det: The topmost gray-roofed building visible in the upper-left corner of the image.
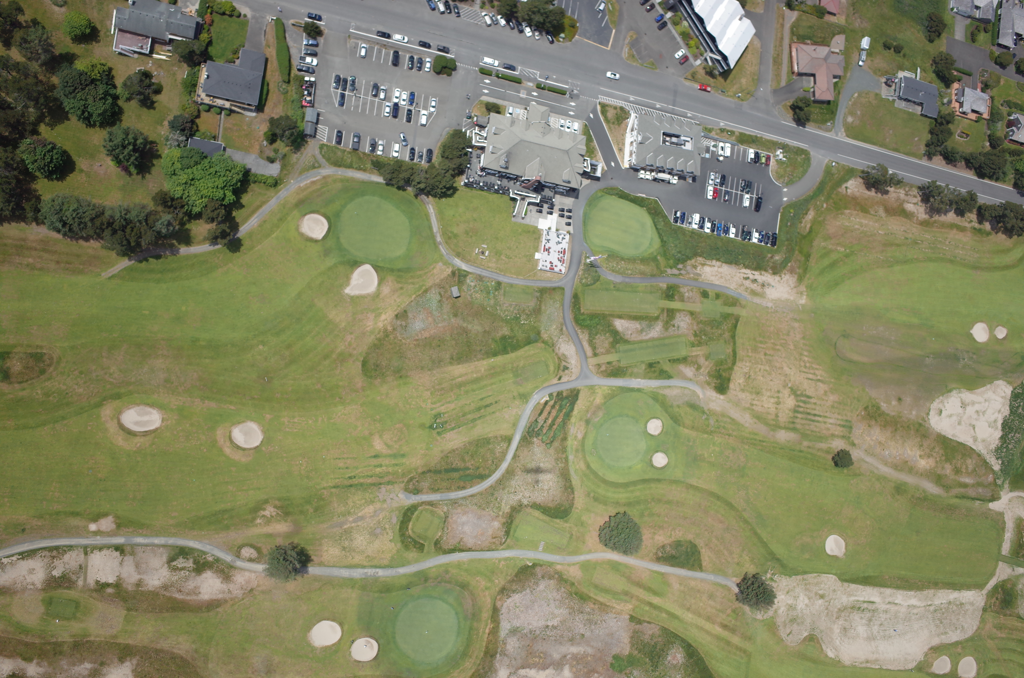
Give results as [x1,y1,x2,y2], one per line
[114,0,202,57]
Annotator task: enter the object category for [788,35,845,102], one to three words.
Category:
house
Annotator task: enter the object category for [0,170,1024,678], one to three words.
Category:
golf course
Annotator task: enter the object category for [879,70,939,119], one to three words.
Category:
house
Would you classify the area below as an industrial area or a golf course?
golf course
